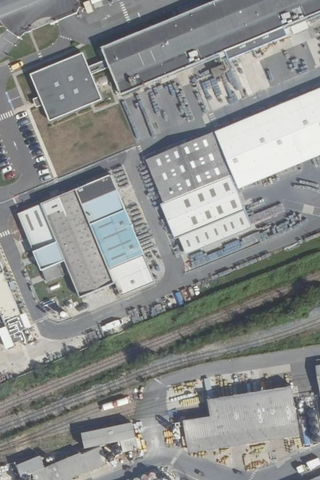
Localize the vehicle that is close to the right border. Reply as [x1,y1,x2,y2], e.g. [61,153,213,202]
[297,458,320,474]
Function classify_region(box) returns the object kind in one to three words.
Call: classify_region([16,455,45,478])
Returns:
shed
